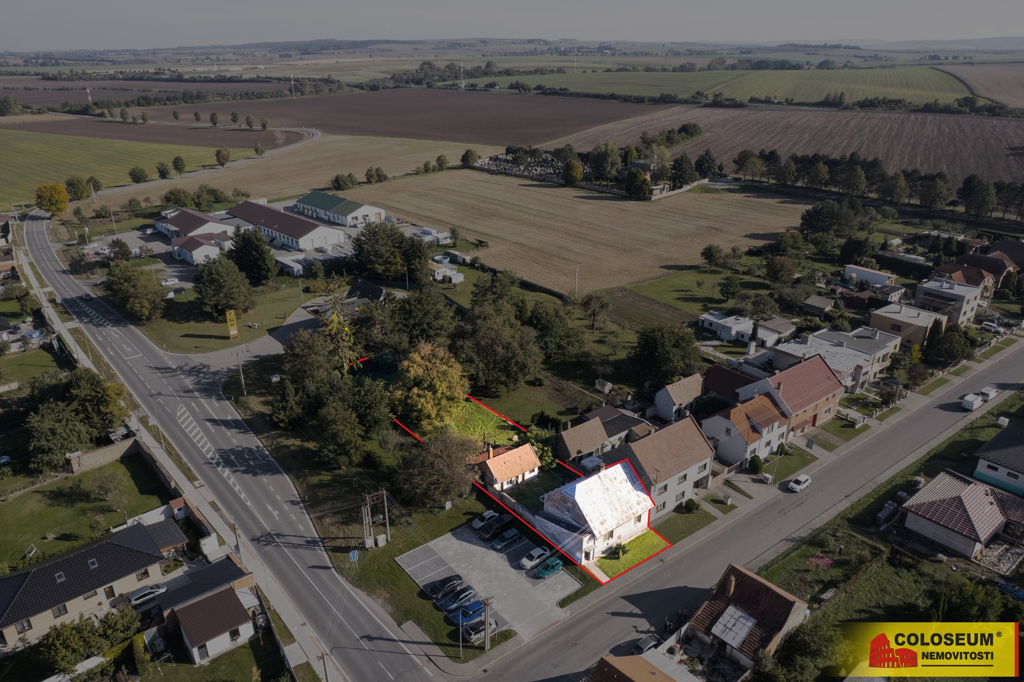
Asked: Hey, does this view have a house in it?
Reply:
Yes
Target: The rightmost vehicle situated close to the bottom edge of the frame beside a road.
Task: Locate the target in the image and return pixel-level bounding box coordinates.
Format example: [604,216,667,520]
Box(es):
[633,630,665,654]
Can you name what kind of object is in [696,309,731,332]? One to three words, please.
building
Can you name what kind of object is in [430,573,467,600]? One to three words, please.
car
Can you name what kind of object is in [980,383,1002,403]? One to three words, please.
vehicle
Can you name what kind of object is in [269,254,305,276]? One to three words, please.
shed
